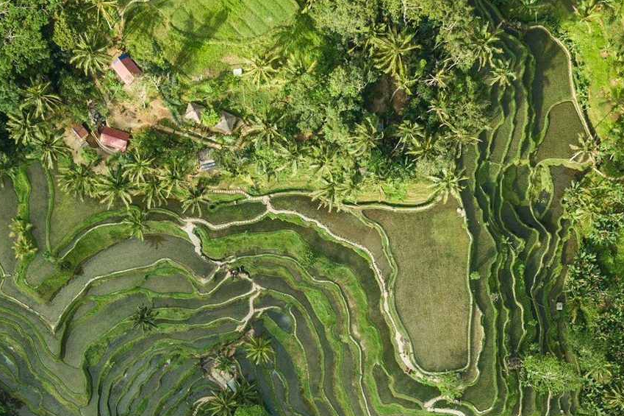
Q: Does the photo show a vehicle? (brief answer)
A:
No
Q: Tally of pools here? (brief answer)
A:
zero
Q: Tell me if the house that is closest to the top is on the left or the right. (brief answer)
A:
left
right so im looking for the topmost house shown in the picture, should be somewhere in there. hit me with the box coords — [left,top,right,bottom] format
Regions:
[110,52,144,88]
